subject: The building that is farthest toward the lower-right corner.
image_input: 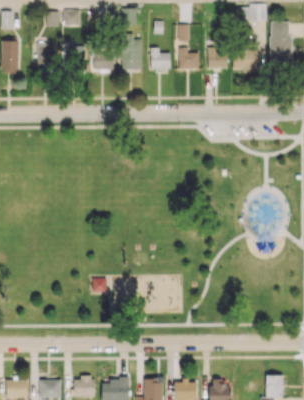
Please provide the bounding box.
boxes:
[266,375,284,400]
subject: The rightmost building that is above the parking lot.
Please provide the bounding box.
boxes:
[270,22,290,58]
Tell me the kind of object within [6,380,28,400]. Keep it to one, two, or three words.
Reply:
house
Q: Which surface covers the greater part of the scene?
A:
grass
